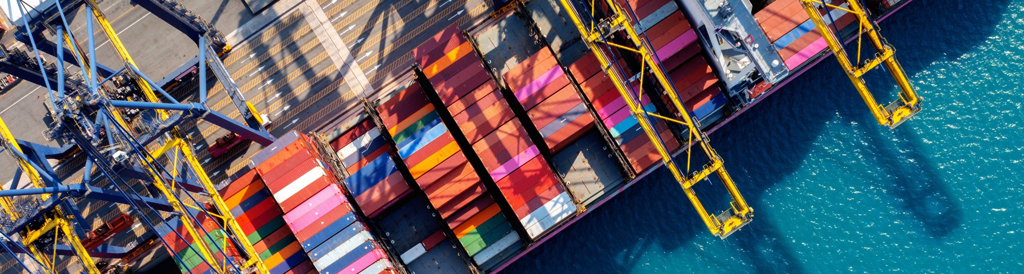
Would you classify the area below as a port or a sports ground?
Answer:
port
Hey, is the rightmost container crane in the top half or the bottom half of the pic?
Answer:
top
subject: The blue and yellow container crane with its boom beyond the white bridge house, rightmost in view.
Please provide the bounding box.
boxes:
[790,0,926,138]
